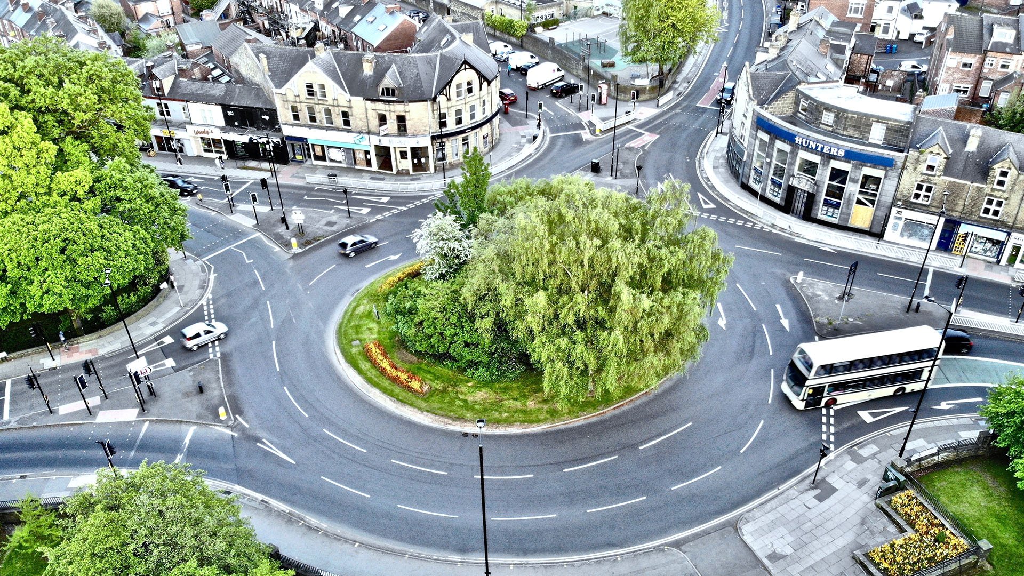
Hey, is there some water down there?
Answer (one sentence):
No, the scene doesn't show any water.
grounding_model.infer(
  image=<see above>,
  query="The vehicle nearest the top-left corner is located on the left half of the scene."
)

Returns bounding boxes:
[159,169,195,192]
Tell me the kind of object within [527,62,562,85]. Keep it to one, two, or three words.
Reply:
vehicle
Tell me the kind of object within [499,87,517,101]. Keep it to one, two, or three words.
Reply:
car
